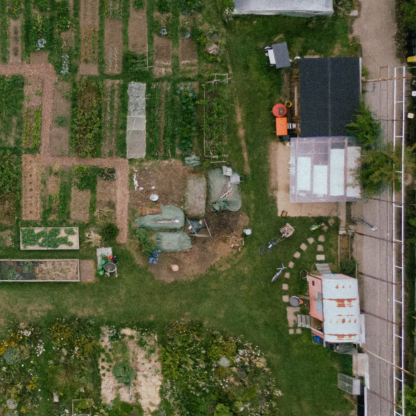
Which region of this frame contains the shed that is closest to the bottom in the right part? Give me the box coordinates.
[288,263,360,343]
